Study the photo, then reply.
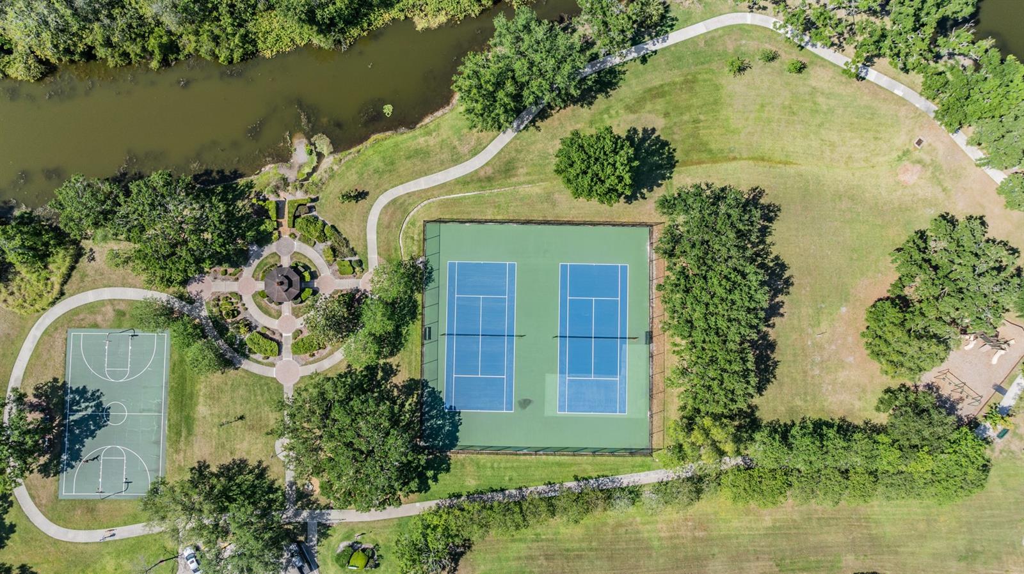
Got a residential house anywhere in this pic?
No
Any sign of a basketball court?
Yes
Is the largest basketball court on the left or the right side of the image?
left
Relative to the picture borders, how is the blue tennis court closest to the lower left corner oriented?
vertically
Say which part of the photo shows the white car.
bottom left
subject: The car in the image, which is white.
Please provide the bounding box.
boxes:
[182,545,202,574]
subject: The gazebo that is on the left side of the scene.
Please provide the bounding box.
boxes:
[266,267,304,301]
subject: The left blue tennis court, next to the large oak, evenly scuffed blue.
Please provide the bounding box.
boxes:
[444,261,516,412]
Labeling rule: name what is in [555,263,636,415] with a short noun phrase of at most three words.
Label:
tennis court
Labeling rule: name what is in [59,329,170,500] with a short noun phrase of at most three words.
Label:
basketball court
